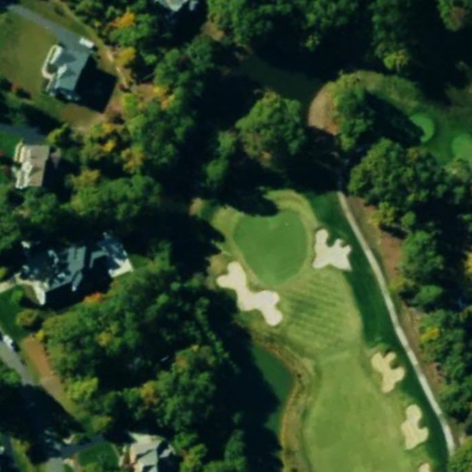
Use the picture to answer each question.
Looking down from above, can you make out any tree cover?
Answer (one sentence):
Yes, some tree cover is visible.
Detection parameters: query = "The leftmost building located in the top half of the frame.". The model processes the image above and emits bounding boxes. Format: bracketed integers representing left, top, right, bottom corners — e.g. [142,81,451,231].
[16,142,52,184]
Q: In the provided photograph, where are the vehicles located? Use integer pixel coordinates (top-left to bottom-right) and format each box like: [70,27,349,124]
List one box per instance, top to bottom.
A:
[81,38,95,48]
[4,333,14,344]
